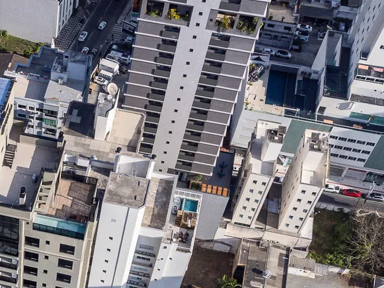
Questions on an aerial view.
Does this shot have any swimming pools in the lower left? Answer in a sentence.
Yes, there is a swimming pool in the lower left.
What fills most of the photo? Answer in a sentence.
Most of the picture is covered by buildings.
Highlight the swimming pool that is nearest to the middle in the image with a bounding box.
[184,192,202,211]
